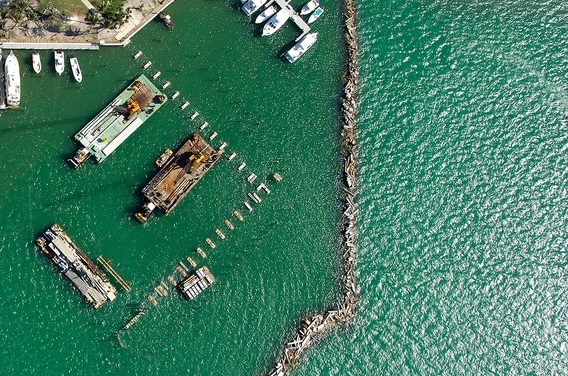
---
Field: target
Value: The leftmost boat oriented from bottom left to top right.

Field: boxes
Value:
[66,144,92,168]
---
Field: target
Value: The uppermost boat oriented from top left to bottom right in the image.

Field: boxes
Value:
[158,14,173,30]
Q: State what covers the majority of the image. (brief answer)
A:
water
